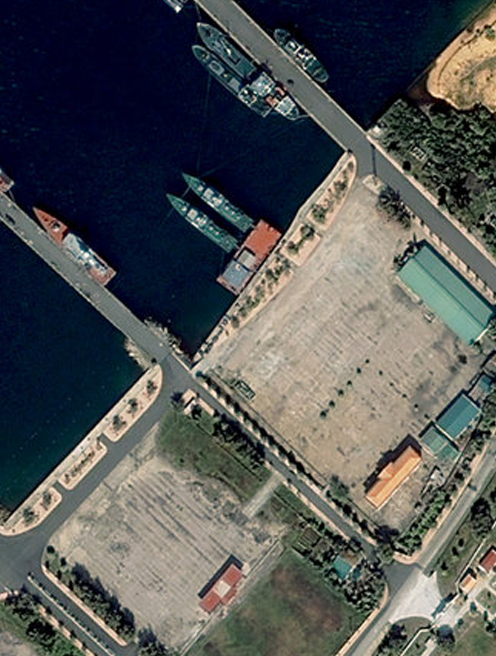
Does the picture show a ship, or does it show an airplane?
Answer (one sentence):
Visible in the photo is a ship.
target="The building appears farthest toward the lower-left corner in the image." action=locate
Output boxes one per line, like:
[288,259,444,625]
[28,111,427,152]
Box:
[199,565,246,611]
